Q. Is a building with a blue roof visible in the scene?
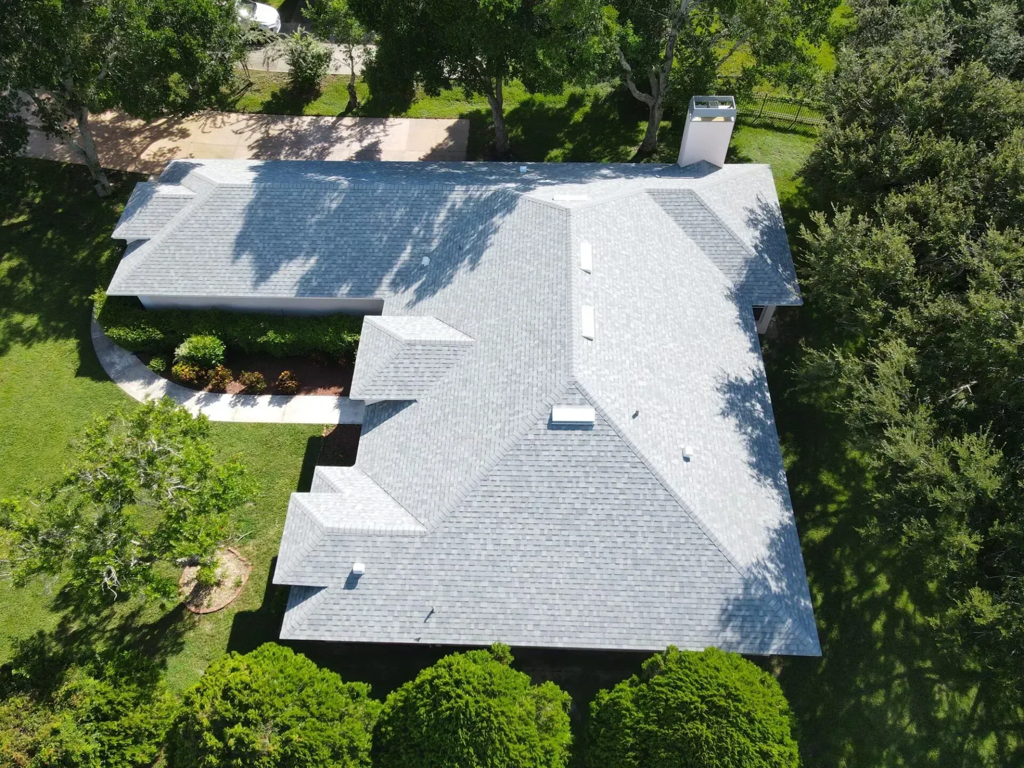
No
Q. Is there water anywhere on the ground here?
No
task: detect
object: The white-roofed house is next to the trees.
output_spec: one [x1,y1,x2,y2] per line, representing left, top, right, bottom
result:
[105,99,822,665]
